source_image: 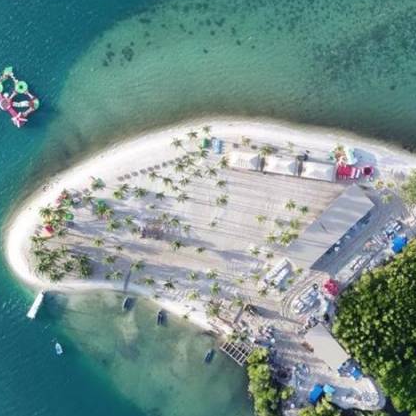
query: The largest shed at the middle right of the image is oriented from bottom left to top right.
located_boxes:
[288,184,378,275]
